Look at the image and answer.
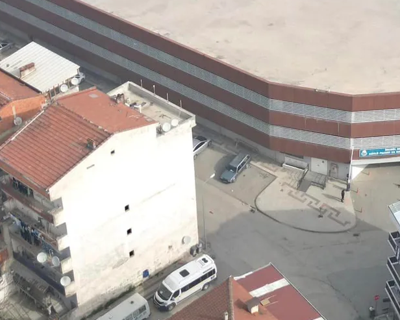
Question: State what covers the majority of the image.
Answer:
buildings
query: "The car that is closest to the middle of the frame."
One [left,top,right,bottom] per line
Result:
[194,138,213,153]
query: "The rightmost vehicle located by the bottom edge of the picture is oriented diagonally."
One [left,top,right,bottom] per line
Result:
[153,255,211,311]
